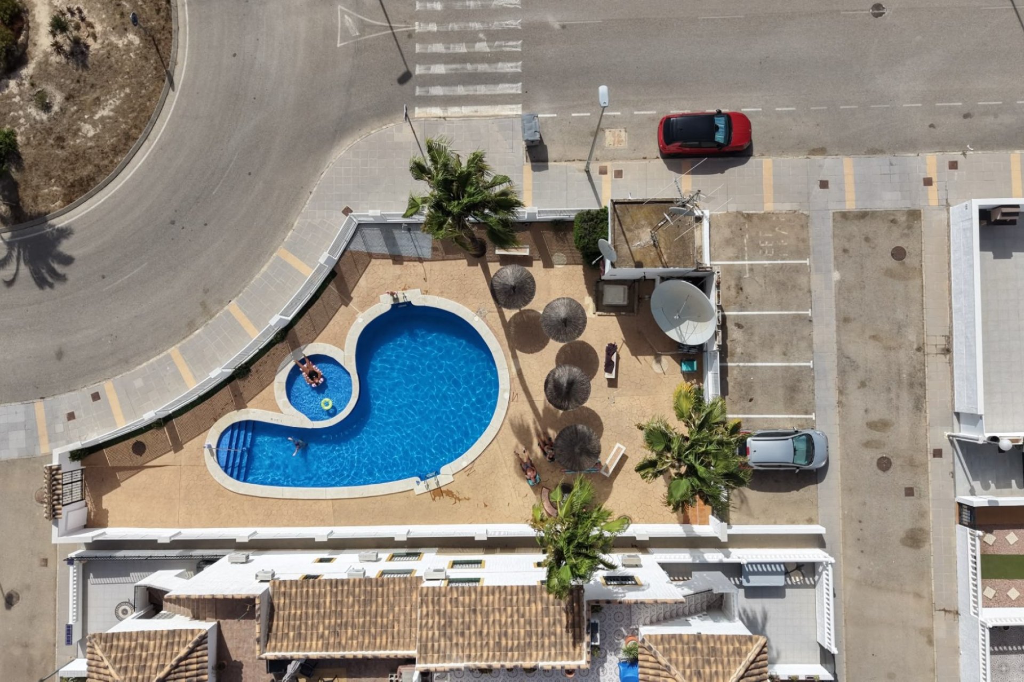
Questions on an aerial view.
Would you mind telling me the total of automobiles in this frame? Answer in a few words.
2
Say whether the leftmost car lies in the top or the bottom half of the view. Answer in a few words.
top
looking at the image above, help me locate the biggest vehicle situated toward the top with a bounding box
[658,105,752,155]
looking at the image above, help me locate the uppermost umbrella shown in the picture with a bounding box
[489,263,537,313]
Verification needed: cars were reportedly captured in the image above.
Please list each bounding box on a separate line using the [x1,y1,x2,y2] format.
[658,105,752,155]
[740,429,832,476]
